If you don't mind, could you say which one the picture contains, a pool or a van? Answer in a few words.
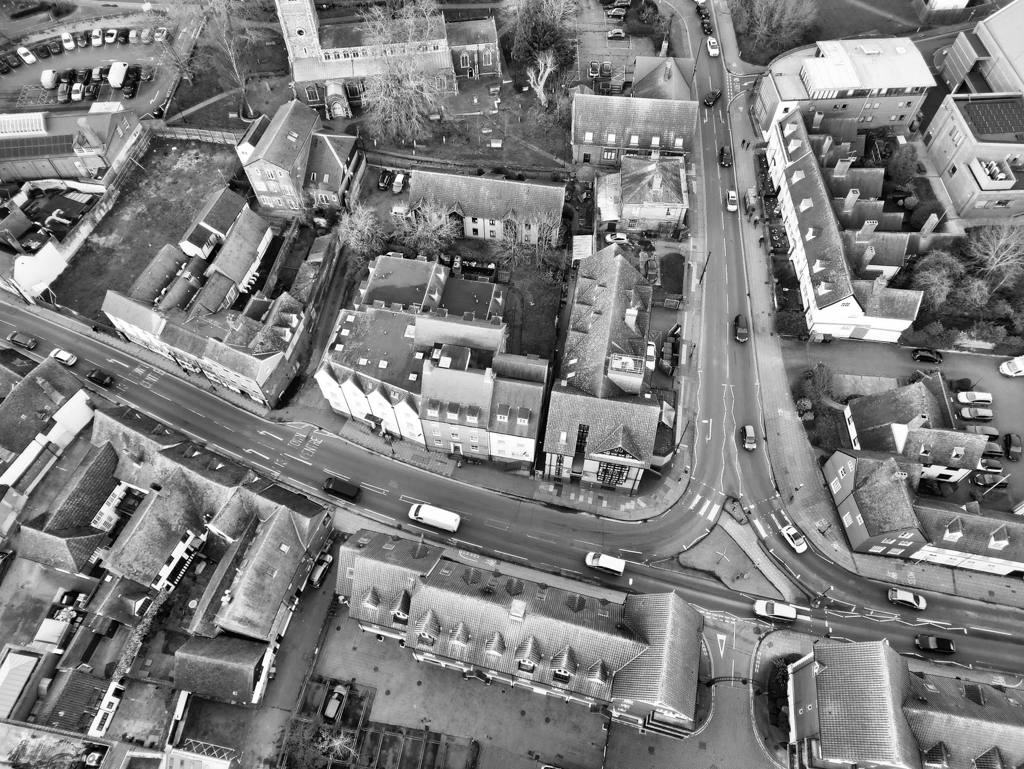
van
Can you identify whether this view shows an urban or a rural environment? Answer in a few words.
urban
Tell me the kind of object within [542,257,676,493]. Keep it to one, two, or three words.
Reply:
building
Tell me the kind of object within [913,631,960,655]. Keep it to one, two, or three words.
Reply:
car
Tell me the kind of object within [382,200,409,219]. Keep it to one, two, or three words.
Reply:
vehicle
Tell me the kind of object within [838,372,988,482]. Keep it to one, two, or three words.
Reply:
house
